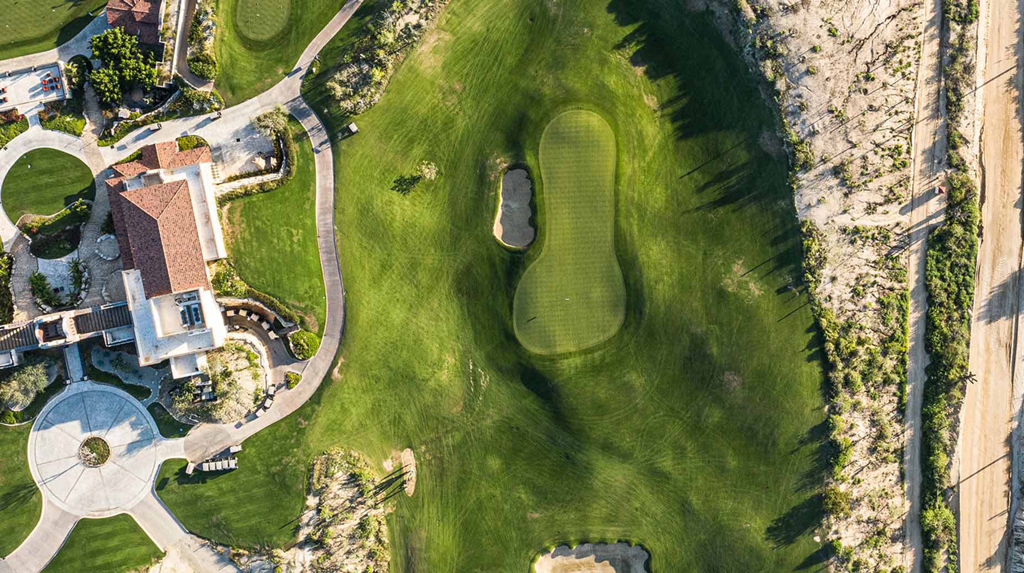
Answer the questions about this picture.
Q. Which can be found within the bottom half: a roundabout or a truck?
roundabout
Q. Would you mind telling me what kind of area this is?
golf course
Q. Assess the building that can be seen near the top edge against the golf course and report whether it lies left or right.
to the left of it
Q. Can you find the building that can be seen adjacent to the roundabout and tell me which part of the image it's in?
left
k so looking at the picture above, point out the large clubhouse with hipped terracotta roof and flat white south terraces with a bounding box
[104,140,233,379]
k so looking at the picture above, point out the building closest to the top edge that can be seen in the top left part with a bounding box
[106,0,167,48]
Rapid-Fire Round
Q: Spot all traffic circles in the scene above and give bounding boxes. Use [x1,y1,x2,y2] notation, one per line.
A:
[28,379,187,519]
